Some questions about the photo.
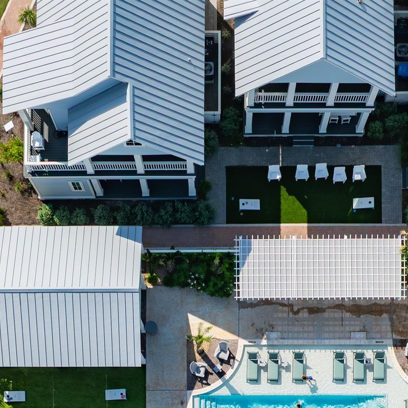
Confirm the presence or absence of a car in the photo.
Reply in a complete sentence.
No, the picture doesn't show any car.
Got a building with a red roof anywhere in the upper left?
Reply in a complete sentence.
No, no building with a red roof is visible in the upper left.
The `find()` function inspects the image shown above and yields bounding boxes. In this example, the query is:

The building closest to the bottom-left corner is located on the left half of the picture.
[0,226,145,369]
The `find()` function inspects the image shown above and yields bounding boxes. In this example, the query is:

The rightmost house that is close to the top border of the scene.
[223,0,396,146]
